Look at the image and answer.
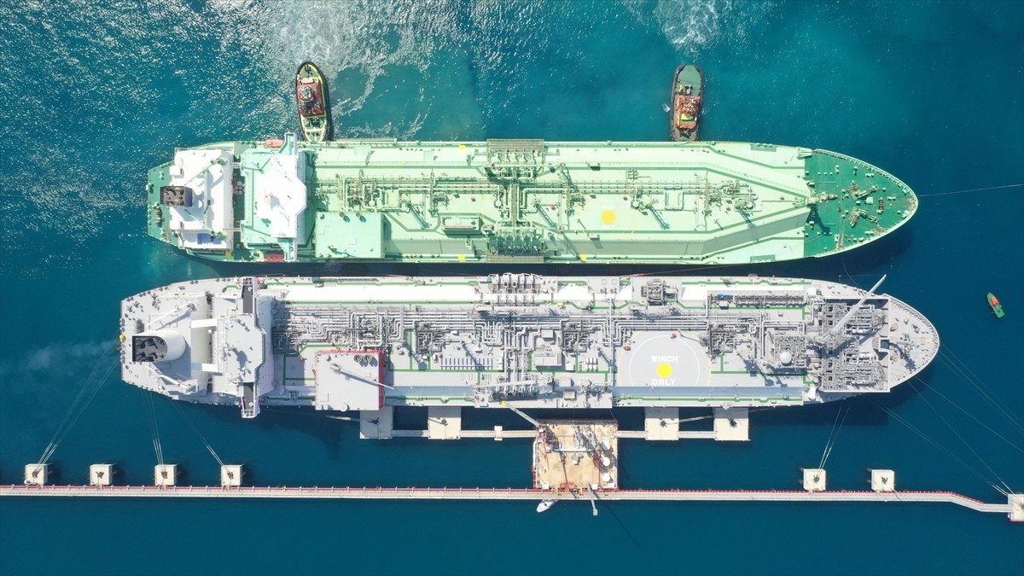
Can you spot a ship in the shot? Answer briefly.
Yes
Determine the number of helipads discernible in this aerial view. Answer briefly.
2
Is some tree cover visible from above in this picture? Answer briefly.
No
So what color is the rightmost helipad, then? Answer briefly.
white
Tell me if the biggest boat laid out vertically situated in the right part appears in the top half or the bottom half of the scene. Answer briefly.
top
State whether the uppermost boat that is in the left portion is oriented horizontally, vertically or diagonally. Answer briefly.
vertically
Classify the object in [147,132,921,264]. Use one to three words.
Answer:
ship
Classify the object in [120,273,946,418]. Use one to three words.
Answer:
ship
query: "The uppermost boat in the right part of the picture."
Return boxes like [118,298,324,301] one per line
[669,64,704,141]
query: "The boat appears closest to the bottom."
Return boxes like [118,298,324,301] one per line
[537,500,558,512]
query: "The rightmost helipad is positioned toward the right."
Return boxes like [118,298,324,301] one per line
[619,330,710,386]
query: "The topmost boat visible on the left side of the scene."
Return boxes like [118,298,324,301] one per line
[296,62,332,140]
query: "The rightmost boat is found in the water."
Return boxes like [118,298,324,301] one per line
[988,293,1005,318]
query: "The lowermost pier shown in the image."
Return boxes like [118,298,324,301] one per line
[0,482,1007,513]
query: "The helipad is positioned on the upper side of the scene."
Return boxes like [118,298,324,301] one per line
[579,192,637,240]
